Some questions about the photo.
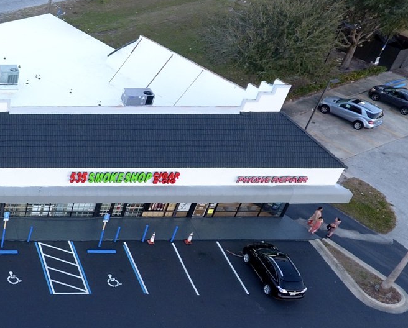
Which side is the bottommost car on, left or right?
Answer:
right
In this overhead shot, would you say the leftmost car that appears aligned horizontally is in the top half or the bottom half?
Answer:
top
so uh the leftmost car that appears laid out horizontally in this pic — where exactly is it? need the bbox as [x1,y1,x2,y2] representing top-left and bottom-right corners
[318,94,386,129]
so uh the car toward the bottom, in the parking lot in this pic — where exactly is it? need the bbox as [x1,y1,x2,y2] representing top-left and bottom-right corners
[246,243,311,301]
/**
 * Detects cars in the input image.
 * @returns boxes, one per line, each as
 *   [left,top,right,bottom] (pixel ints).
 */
[246,243,311,301]
[318,94,386,129]
[368,82,408,115]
